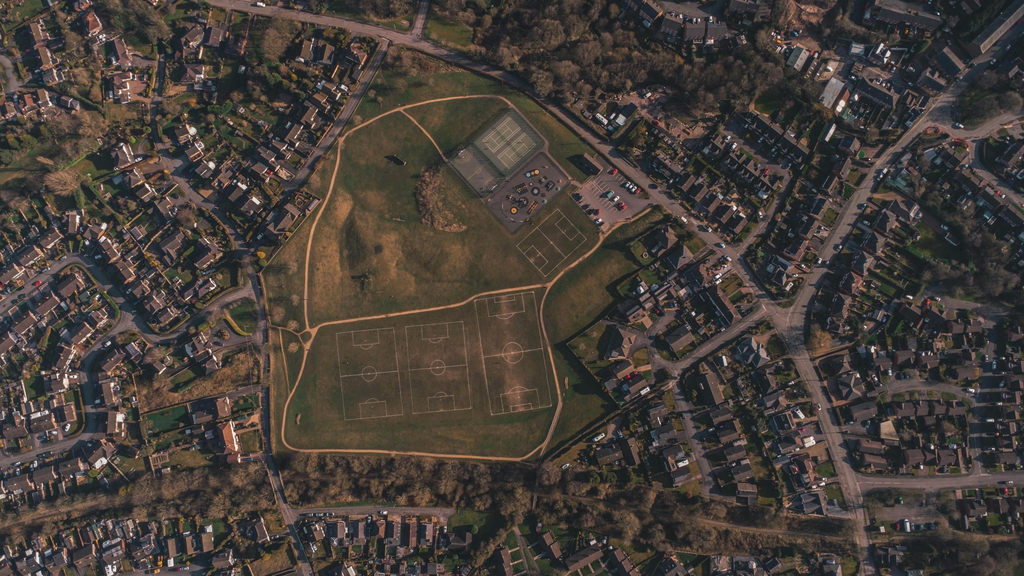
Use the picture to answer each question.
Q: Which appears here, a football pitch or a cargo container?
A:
football pitch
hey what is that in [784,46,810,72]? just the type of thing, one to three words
building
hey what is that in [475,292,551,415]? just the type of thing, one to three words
soccer field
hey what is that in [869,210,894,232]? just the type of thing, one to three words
house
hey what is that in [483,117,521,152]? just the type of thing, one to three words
tennis court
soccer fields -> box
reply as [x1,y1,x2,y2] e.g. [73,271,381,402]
[517,209,587,277]
[475,292,551,415]
[406,321,471,414]
[336,328,403,420]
